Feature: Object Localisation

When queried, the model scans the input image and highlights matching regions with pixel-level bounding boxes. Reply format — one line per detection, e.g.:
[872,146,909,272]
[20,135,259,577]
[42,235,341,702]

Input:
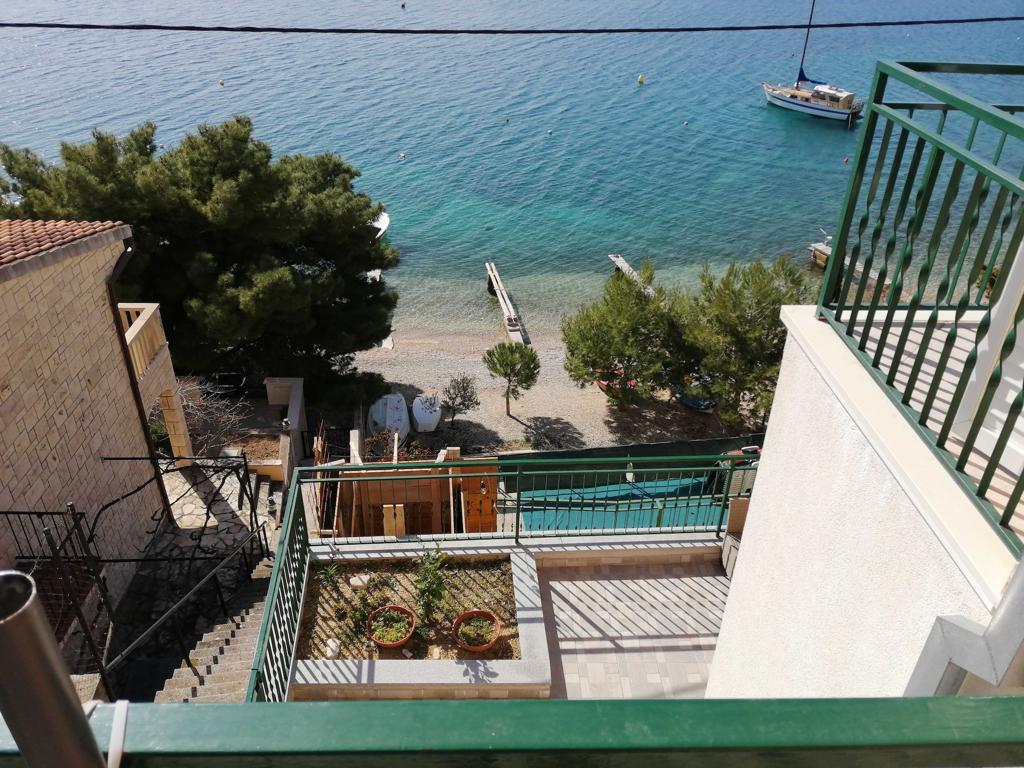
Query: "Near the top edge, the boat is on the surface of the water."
[752,0,870,122]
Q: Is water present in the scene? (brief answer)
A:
Yes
